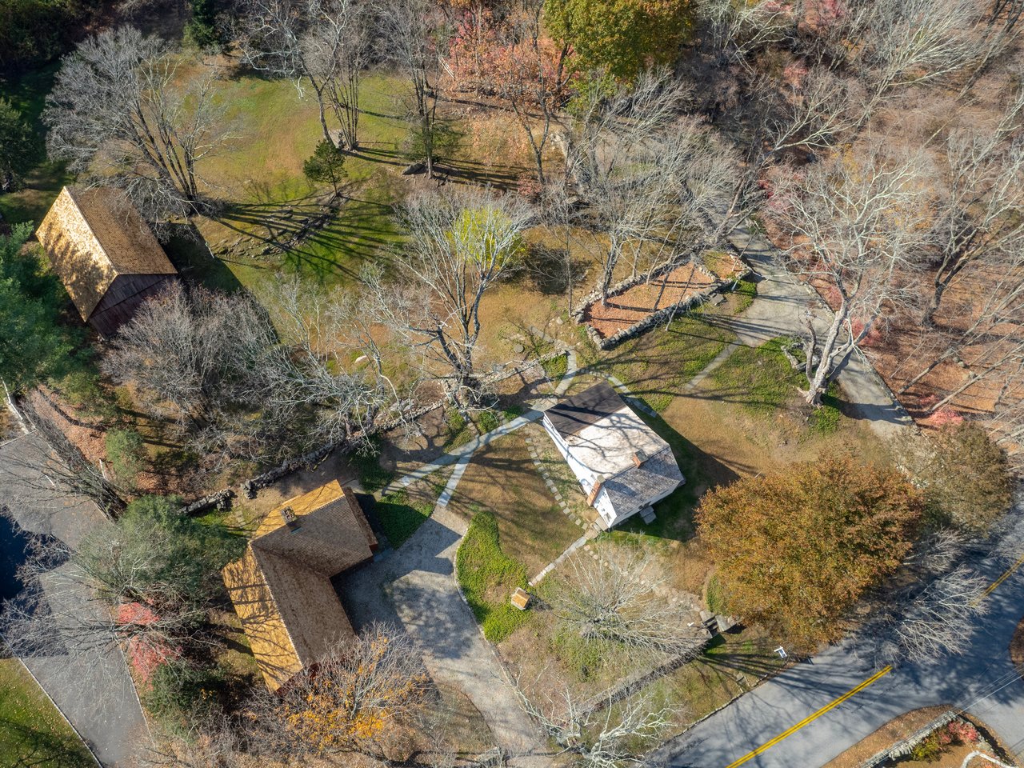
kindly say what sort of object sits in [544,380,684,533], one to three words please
house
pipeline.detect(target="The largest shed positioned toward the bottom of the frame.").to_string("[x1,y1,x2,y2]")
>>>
[224,480,381,692]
